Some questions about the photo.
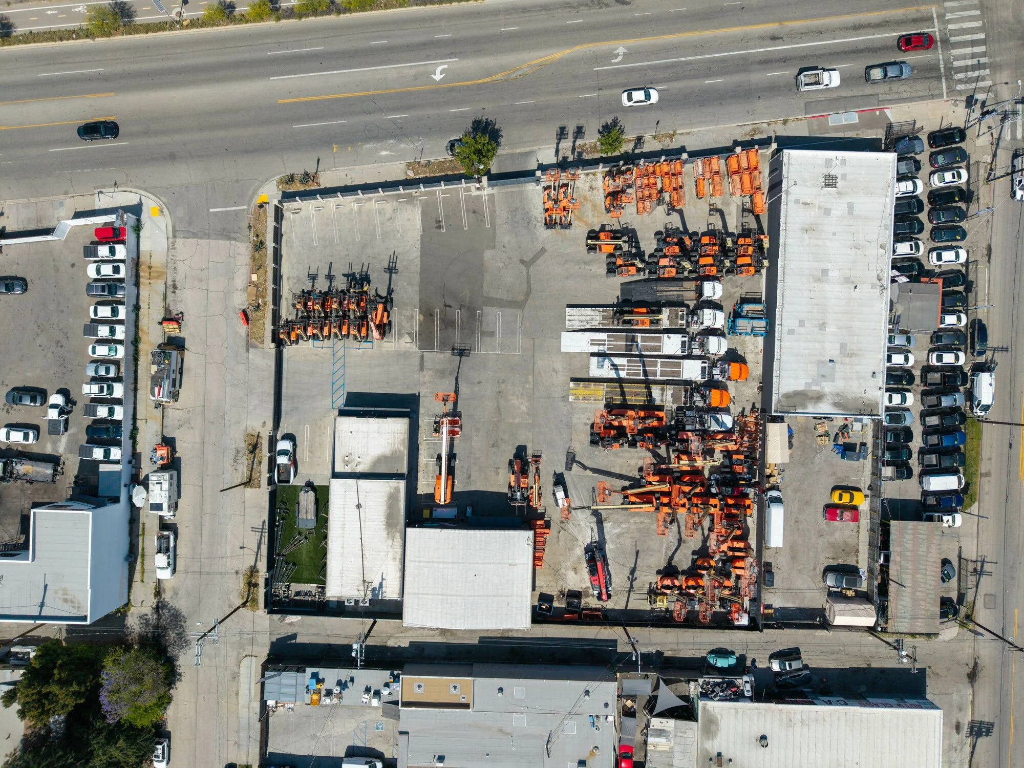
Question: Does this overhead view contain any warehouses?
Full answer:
Yes, there is a warehouse in the image.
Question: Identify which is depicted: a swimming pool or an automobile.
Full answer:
There is an automobile in the scene.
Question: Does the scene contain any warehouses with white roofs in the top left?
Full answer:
No, I can find no warehouse with a white roof in the top left.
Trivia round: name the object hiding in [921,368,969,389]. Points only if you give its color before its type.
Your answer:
black truck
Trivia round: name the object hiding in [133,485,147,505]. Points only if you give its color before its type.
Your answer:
white umbrella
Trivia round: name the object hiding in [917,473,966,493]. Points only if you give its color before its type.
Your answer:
white vehicle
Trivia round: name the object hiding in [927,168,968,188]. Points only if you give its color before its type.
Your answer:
white car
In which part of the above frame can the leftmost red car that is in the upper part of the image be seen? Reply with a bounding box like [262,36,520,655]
[89,223,122,242]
